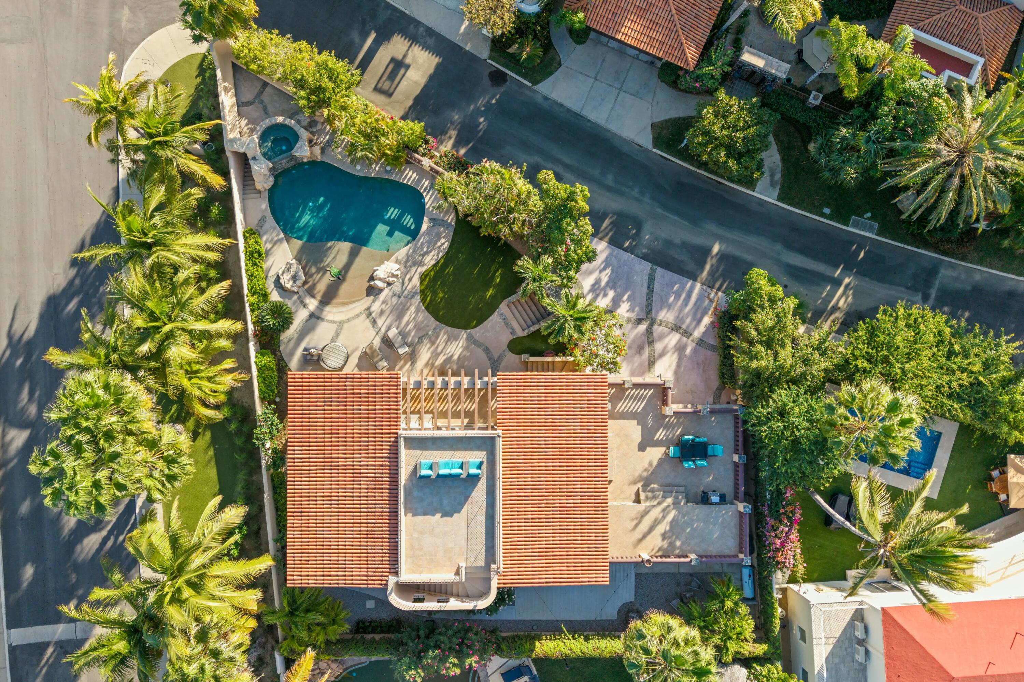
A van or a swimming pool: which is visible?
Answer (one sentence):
Of the two, only a swimming pool appears.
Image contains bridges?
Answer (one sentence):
No, there's no bridge here.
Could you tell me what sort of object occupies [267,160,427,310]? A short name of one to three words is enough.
swimming pool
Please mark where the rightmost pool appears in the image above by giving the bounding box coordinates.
[800,383,959,499]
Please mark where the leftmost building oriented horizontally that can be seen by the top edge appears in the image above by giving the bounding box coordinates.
[564,0,725,71]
